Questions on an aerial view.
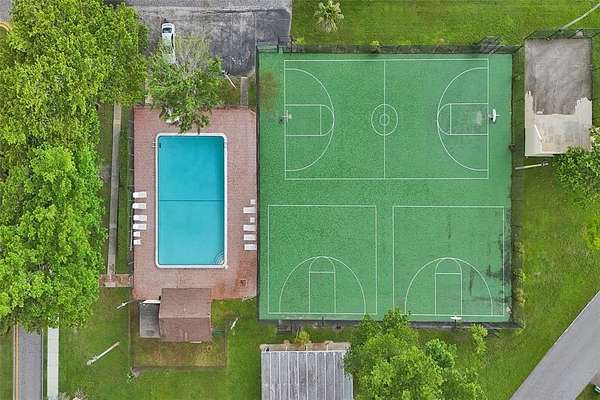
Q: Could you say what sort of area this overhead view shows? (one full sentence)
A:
The area seen from above is a sports ground.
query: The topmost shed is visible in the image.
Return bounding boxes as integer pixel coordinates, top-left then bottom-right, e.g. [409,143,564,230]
[156,287,213,343]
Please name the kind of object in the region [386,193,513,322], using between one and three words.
basketball court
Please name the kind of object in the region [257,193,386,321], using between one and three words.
basketball court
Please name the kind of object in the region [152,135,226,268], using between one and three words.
swimming pool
